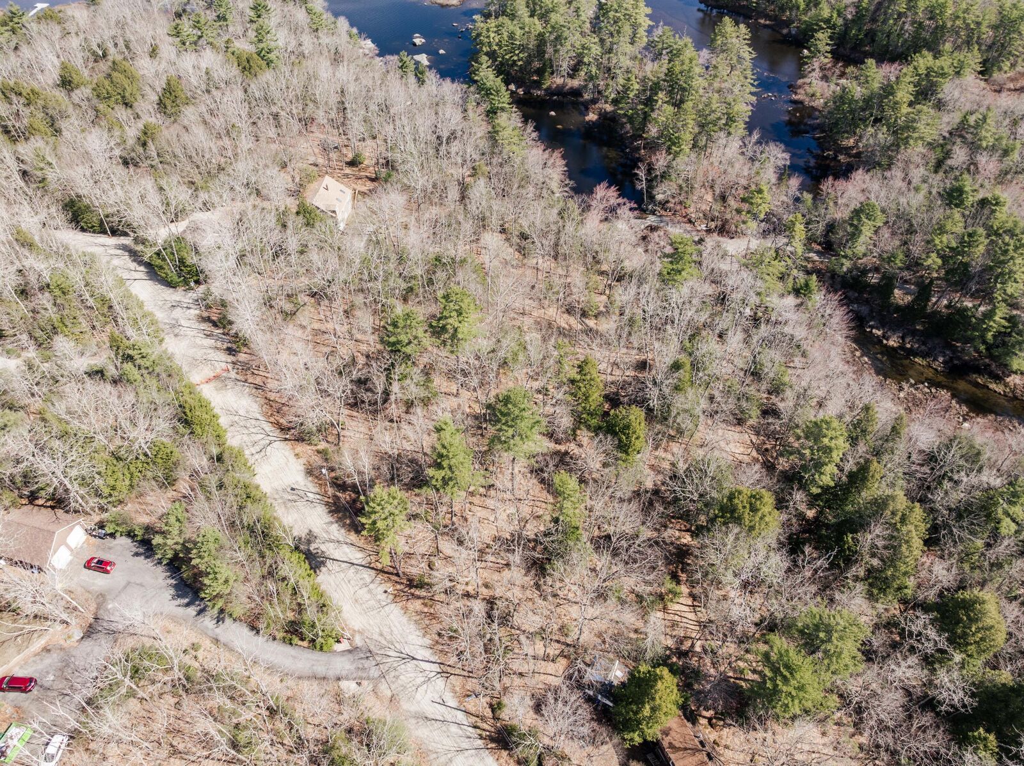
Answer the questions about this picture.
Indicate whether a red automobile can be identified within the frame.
Yes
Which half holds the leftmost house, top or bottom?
bottom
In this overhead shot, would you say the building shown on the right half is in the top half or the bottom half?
bottom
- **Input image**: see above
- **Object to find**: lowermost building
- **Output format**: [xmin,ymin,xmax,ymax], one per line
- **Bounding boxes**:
[651,703,725,766]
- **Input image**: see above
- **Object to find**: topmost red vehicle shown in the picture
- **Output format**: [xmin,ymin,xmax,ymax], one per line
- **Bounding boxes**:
[79,555,118,575]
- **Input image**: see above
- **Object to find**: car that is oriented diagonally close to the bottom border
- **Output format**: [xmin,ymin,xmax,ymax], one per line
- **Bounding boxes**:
[37,732,70,766]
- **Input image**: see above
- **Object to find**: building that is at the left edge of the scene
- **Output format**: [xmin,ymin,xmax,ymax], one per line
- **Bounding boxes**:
[0,497,88,577]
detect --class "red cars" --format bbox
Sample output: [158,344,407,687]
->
[79,555,118,575]
[0,674,39,695]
